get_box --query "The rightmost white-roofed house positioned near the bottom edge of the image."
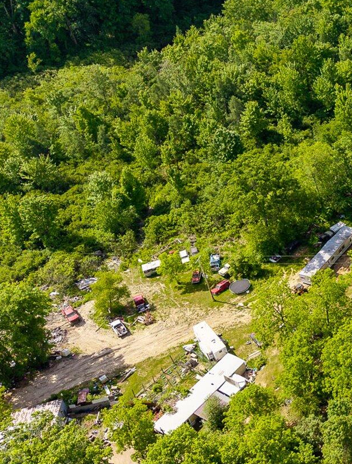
[153,352,250,445]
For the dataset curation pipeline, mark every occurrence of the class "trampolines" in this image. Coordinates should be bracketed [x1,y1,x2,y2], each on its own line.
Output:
[228,279,251,295]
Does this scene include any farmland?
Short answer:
No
